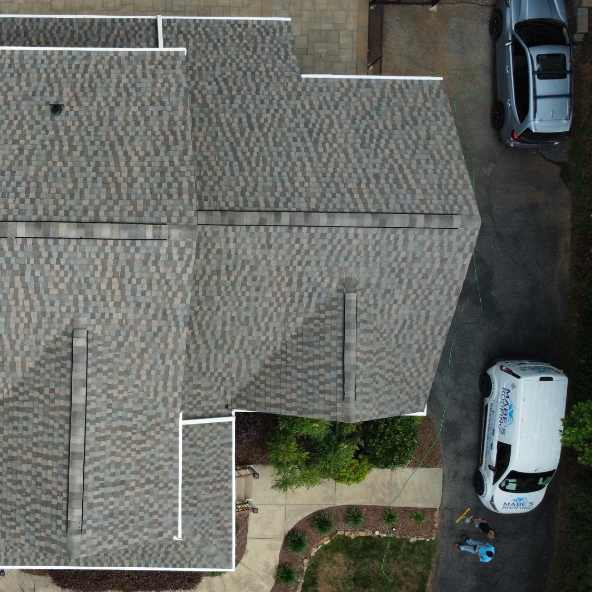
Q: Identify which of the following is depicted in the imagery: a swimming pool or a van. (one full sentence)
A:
There is a van in the scene.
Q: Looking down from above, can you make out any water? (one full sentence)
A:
No, no water is visible.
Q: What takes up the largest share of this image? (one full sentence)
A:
The largest share of the image is taken up by buildings.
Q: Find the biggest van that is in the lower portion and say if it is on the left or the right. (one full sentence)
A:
The biggest van that is in the lower portion appears in the right half of the scene.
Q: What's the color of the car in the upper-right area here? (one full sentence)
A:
In this view, the car in the upper-right area is black.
